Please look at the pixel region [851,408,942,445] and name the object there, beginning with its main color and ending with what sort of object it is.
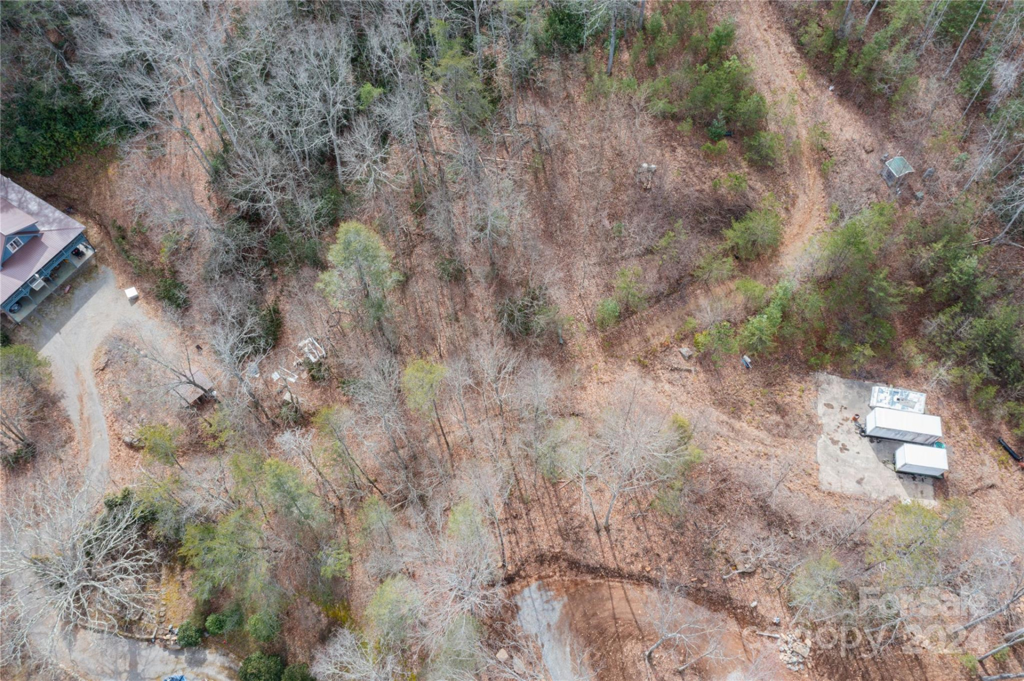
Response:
white trailer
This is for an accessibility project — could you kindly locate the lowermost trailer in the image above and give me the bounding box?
[881,444,949,478]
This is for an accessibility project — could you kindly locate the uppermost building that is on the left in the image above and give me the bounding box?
[0,184,101,331]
